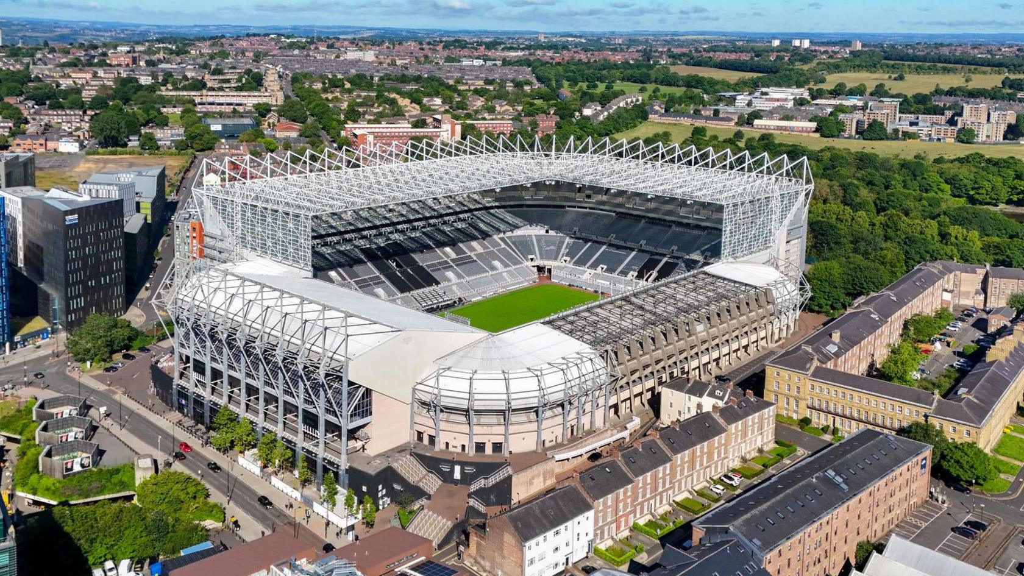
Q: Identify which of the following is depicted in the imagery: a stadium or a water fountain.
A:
stadium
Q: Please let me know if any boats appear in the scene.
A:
No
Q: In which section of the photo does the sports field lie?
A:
center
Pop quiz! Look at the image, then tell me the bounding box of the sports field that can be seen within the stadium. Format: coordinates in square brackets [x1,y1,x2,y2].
[433,284,608,333]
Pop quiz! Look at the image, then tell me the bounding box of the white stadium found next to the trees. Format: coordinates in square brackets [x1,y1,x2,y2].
[139,132,819,548]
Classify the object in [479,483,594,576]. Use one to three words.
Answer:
house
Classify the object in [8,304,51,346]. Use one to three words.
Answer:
building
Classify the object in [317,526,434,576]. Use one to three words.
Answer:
building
